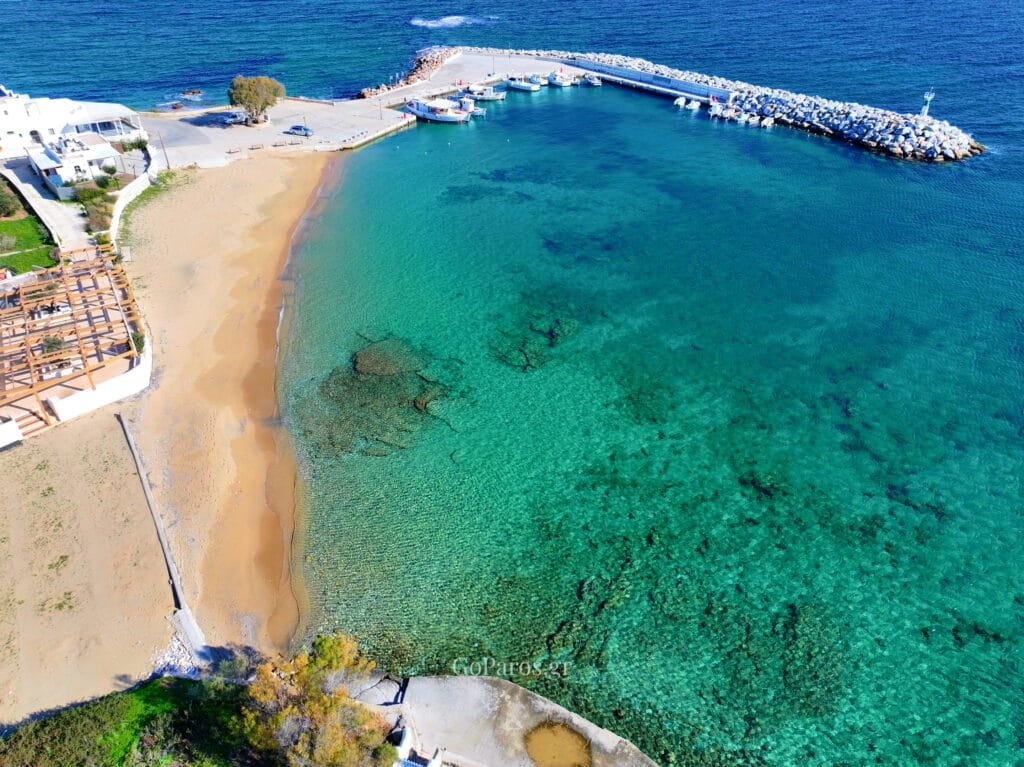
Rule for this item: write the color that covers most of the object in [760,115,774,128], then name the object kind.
white boat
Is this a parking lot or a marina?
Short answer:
marina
